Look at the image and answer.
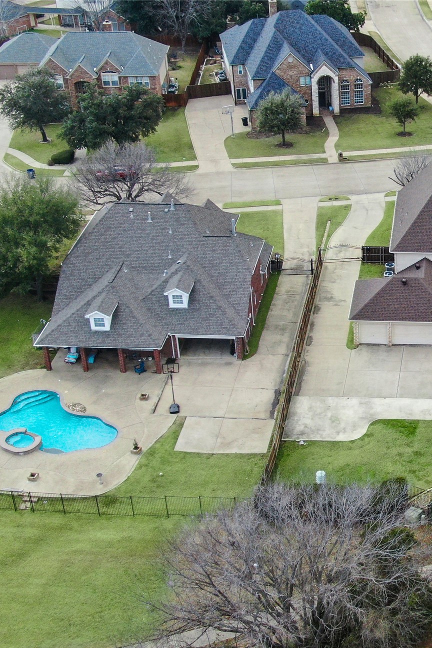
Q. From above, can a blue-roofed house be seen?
Yes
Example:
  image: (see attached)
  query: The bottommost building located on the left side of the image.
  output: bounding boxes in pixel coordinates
[31,189,277,373]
